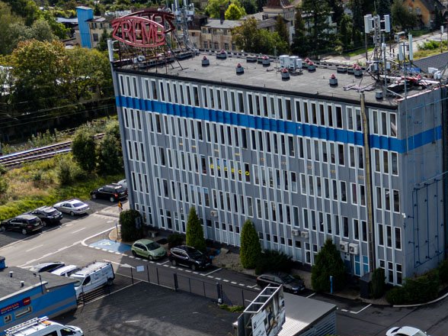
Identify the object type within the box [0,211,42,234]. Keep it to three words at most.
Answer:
car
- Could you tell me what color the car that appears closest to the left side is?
black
